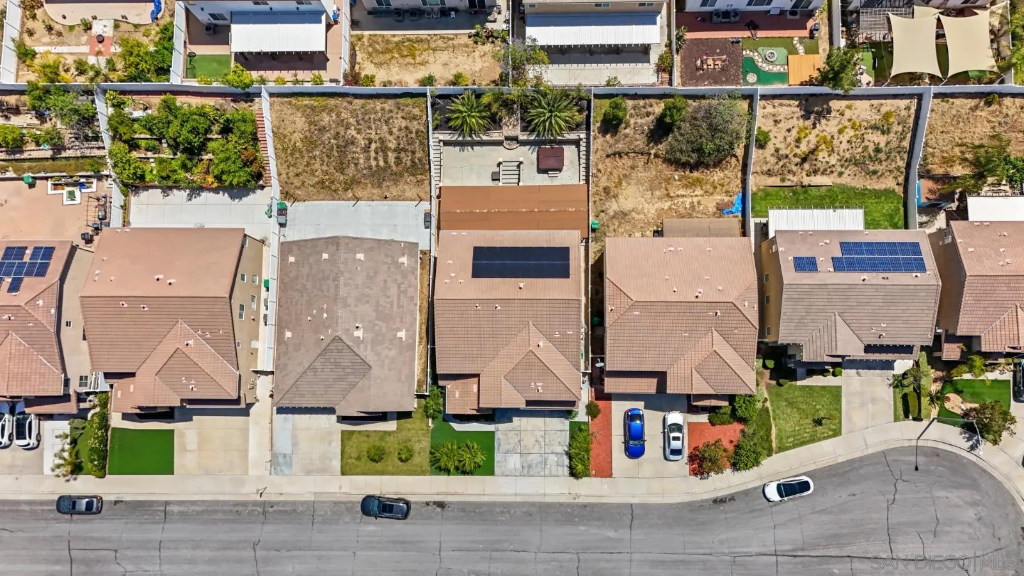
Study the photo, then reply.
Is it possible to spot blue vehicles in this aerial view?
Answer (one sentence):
Yes, you can see a blue vehicle in this photo.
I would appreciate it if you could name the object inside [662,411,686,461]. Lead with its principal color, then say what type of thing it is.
white car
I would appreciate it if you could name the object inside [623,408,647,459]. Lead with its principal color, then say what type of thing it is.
blue car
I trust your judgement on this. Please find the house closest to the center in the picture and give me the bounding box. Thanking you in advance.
[431,230,582,415]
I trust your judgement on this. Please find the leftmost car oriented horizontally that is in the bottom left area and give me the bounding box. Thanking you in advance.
[57,493,108,517]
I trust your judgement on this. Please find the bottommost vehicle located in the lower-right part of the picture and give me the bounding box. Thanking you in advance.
[761,474,814,503]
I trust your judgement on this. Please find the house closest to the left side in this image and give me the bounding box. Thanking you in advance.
[0,241,99,413]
